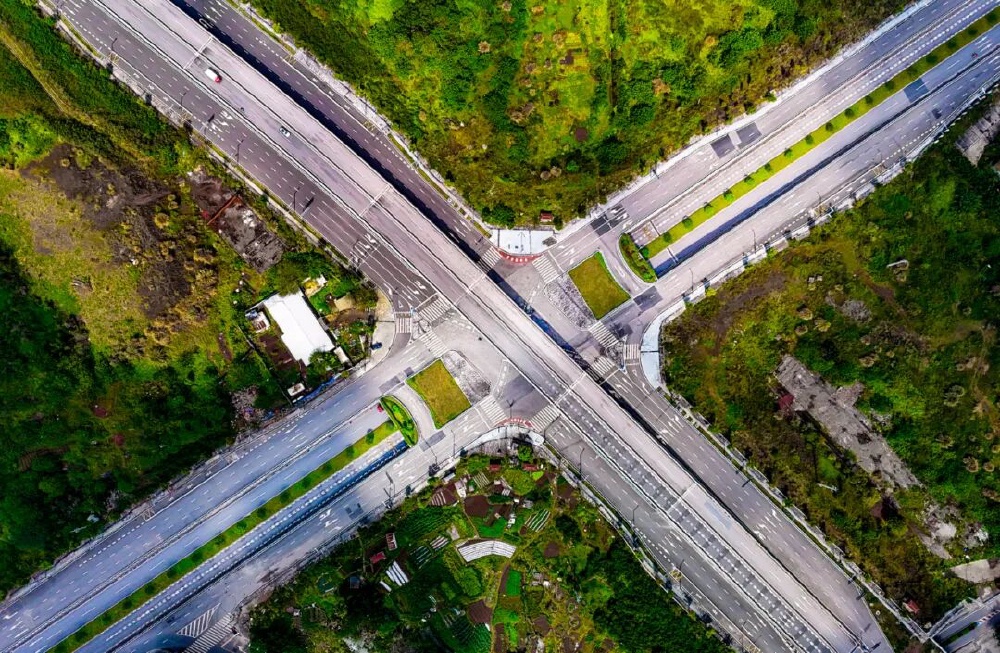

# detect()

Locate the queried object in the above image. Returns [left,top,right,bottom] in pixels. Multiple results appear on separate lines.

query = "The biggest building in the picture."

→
[268,288,335,364]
